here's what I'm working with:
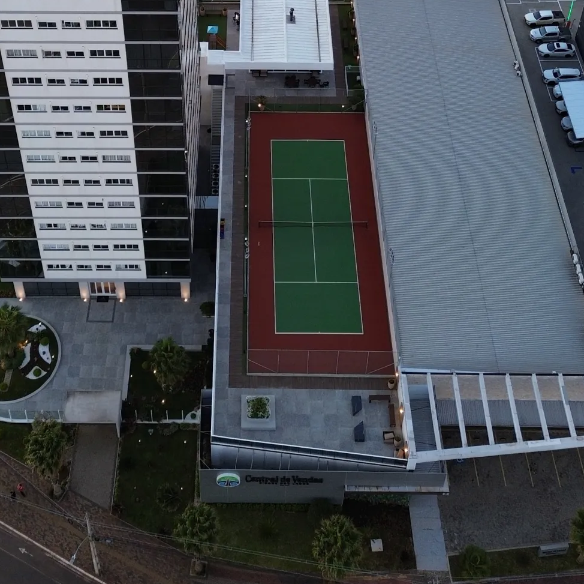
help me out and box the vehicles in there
[554,84,563,100]
[524,8,568,27]
[530,24,575,44]
[542,65,584,86]
[538,42,579,59]
[557,99,567,115]
[561,116,573,133]
[565,133,584,151]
